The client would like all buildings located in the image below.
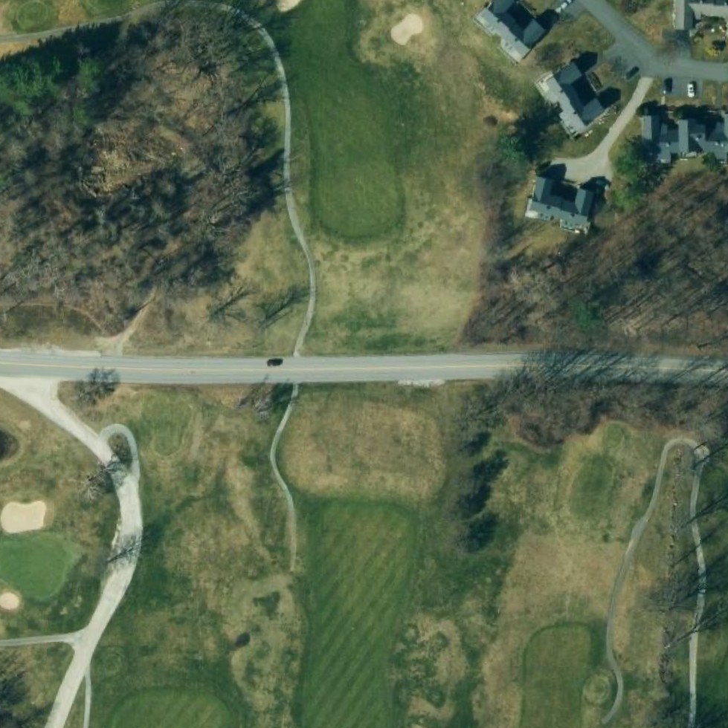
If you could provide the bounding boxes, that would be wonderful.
[526,174,596,235]
[673,0,728,29]
[474,0,549,65]
[642,111,728,163]
[535,53,608,138]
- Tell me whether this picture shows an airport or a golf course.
golf course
